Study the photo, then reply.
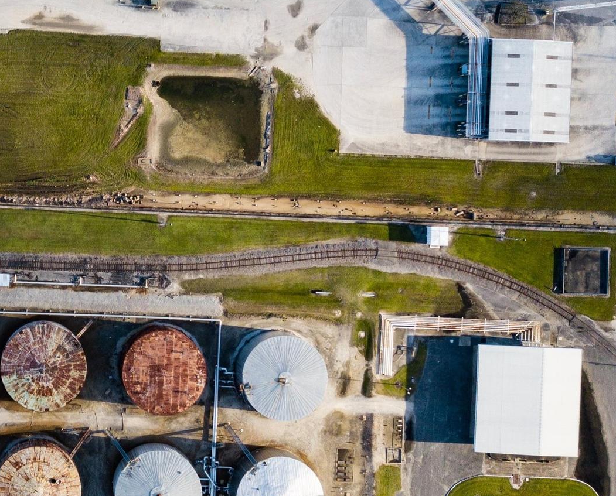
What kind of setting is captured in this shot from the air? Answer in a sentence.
The picture captures an industrial area.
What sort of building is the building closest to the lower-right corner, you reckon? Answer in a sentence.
The building closest to the lower-right corner is a warehouse.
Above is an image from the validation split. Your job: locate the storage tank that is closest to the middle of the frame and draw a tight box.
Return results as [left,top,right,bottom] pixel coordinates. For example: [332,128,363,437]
[236,330,328,421]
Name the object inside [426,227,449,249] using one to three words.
shed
